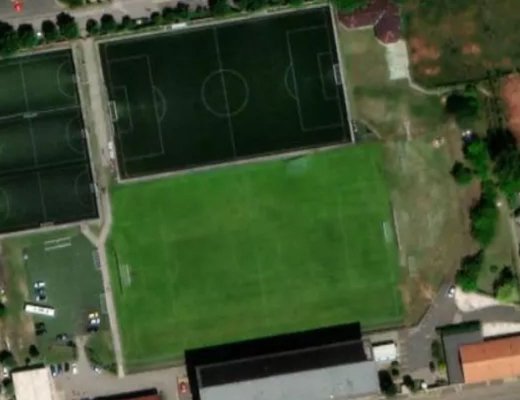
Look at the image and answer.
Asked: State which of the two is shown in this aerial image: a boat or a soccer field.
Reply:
soccer field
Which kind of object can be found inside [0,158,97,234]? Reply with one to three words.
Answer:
soccer field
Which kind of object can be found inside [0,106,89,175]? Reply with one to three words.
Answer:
soccer field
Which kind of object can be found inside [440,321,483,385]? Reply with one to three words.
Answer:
building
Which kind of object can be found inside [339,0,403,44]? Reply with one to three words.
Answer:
building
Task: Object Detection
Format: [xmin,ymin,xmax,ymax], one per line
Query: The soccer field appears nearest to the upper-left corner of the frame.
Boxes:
[0,48,81,120]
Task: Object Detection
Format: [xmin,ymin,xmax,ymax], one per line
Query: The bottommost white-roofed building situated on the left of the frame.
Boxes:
[13,366,56,400]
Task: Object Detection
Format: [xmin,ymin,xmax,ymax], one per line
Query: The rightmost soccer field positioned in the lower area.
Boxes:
[104,141,405,373]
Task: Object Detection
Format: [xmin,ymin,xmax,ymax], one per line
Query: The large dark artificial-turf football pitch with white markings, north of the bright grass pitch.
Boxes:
[100,8,350,180]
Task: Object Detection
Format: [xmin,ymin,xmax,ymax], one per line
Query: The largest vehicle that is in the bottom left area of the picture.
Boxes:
[24,305,55,317]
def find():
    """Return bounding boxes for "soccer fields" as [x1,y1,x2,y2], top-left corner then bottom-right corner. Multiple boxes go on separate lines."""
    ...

[100,8,350,180]
[104,141,405,373]
[0,158,97,234]
[0,48,81,120]
[0,106,89,175]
